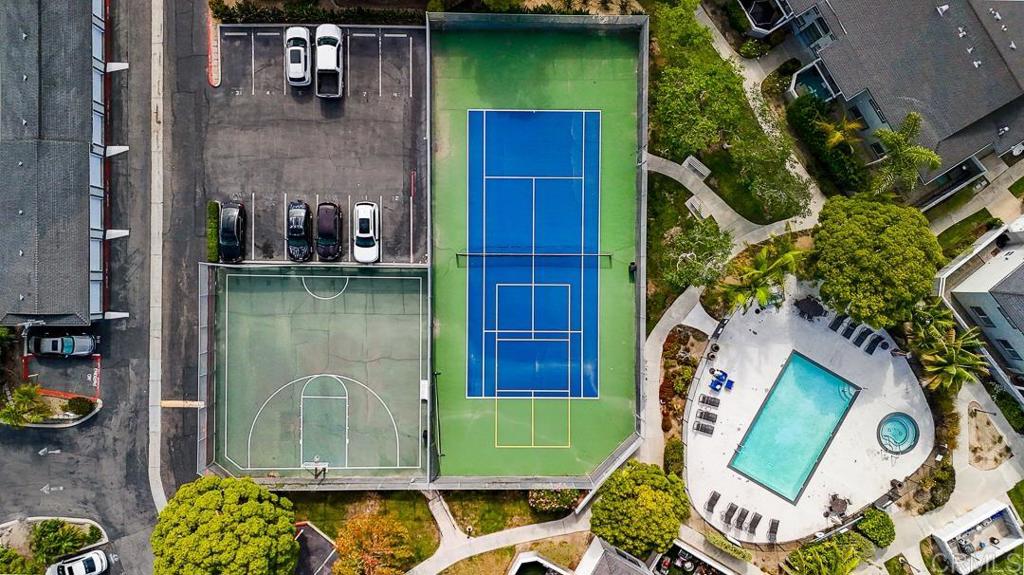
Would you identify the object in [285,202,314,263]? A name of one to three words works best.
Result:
car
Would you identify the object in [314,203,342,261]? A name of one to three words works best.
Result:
car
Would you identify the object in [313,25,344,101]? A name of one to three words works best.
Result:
truck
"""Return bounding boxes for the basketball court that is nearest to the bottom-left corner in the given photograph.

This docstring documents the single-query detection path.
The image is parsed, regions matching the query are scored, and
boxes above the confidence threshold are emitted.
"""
[216,266,426,477]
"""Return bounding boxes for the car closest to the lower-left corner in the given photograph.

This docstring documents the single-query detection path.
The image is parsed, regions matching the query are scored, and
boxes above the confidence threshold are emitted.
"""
[47,546,109,575]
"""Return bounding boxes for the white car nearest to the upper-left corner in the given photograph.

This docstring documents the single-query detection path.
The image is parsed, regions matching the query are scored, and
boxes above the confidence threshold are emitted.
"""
[282,28,313,88]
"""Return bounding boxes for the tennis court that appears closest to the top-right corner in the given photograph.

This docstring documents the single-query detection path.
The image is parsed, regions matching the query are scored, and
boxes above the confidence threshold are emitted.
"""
[430,29,639,477]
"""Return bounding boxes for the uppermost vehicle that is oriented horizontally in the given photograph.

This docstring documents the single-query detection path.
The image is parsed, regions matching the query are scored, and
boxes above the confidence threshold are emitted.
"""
[31,332,97,359]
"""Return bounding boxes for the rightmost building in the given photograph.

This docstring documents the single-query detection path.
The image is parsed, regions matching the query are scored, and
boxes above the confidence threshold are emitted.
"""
[952,233,1024,383]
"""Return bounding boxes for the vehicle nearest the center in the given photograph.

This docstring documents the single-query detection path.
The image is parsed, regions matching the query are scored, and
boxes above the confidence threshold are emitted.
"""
[351,202,380,264]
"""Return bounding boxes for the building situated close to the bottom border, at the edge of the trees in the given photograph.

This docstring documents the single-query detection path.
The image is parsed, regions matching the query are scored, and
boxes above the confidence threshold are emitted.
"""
[575,537,651,575]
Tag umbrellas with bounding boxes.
[748,0,777,25]
[796,294,823,320]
